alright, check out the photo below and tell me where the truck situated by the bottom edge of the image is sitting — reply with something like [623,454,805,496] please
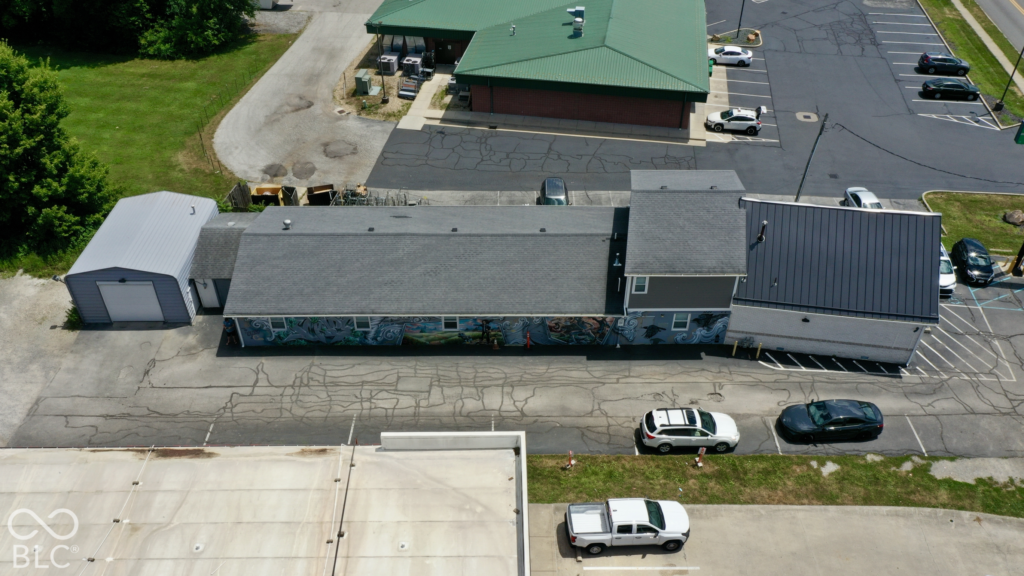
[562,495,698,555]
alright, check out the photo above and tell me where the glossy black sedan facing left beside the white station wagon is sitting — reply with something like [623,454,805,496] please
[780,397,889,442]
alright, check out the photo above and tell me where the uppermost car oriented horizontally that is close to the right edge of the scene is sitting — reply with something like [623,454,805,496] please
[918,50,975,75]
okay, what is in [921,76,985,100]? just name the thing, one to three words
car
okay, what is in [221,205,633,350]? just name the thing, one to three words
building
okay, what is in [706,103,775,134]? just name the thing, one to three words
car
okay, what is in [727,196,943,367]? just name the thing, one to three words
building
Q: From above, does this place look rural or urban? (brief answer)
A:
urban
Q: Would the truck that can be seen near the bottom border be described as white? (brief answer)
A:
Yes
